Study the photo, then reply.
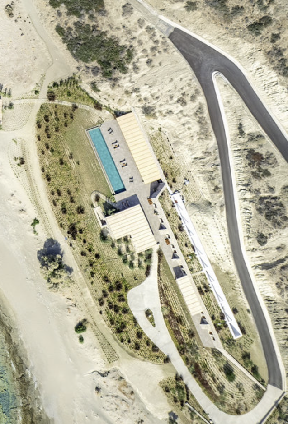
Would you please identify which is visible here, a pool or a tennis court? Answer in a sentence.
It is a pool that can be seen here.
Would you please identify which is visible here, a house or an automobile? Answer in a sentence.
The image shows a house.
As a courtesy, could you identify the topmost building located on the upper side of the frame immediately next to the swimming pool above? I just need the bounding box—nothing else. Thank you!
[116,111,161,184]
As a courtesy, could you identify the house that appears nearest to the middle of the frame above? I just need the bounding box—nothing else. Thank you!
[105,204,157,252]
